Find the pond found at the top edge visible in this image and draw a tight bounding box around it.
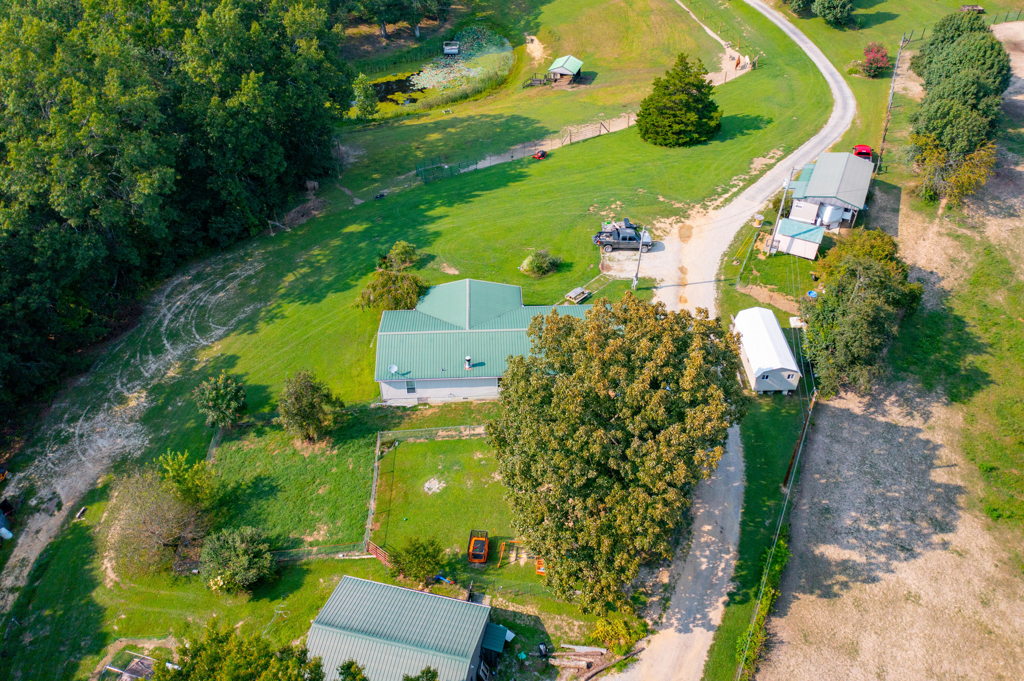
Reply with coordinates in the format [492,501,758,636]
[348,26,515,121]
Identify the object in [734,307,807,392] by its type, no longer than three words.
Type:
shed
